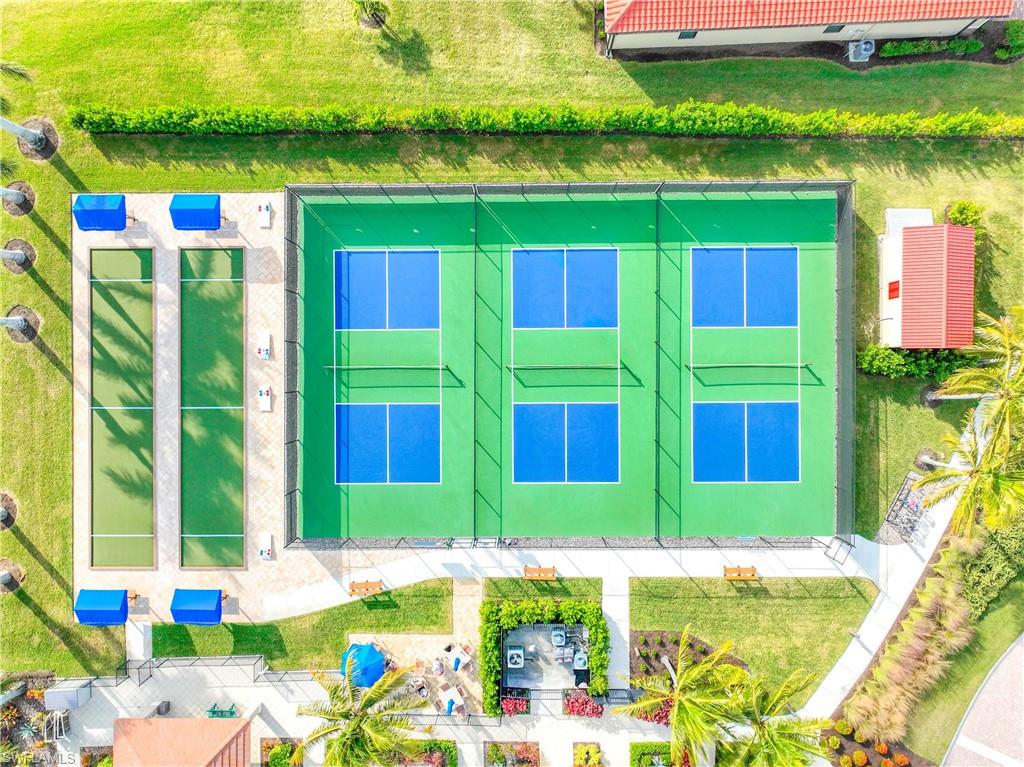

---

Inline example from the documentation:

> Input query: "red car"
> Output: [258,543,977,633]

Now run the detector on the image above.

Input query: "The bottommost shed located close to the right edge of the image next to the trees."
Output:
[879,223,975,348]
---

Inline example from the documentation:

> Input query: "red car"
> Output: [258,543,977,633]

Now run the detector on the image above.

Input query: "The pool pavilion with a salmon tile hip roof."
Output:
[111,697,266,767]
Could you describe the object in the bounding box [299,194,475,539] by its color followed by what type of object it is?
green sports court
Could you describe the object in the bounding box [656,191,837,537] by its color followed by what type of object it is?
green sports court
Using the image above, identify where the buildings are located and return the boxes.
[603,0,1016,57]
[111,697,266,767]
[879,223,975,348]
